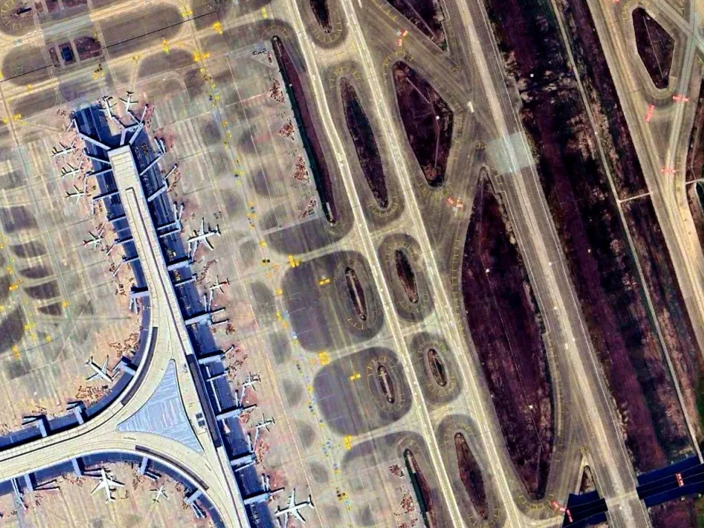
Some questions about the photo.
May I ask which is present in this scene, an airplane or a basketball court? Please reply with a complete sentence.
It is an airplane that can be seen here.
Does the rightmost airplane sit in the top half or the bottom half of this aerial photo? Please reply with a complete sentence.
You can find the rightmost airplane in the bottom half.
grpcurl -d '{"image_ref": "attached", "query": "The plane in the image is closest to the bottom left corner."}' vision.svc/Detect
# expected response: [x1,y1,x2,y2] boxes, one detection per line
[91,469,124,505]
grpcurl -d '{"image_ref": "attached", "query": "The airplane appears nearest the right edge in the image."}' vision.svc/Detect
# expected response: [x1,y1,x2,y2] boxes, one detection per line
[276,494,313,527]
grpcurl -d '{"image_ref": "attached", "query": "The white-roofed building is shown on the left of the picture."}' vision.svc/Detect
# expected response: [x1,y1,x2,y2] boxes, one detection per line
[0,145,251,528]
